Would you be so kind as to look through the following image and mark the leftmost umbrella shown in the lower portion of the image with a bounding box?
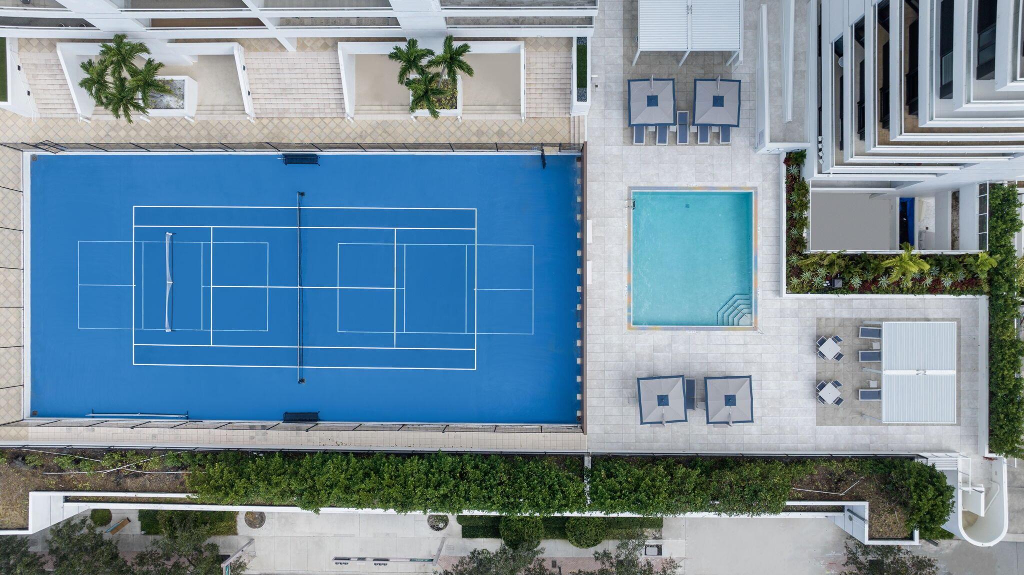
[636,375,688,427]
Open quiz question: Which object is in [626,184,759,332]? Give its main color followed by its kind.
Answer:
blue swimming pool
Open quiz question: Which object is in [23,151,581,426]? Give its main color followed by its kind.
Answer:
blue tennis court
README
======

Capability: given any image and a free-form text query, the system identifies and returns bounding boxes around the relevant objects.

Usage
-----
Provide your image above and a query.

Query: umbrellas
[628,72,676,127]
[636,375,688,427]
[704,376,754,427]
[692,73,741,128]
